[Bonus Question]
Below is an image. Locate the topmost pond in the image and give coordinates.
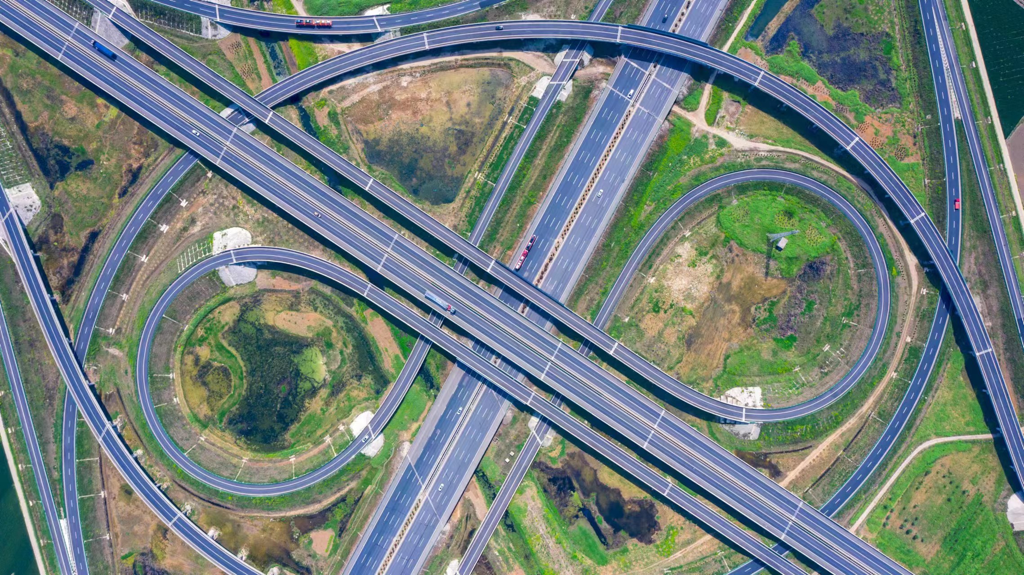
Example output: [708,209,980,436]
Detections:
[776,0,901,110]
